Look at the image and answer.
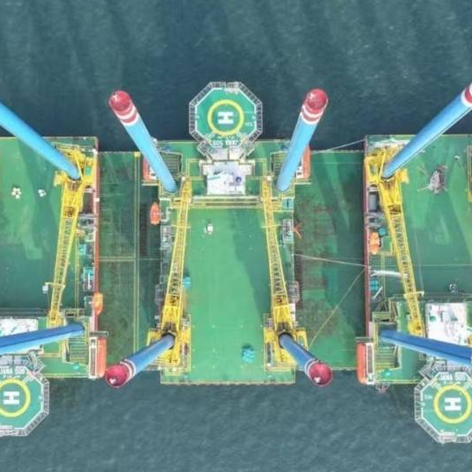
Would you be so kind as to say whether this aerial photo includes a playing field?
No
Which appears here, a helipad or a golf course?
helipad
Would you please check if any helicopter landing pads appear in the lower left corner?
Yes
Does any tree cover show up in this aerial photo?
No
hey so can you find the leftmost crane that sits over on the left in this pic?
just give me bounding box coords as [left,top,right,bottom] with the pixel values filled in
[47,141,103,326]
